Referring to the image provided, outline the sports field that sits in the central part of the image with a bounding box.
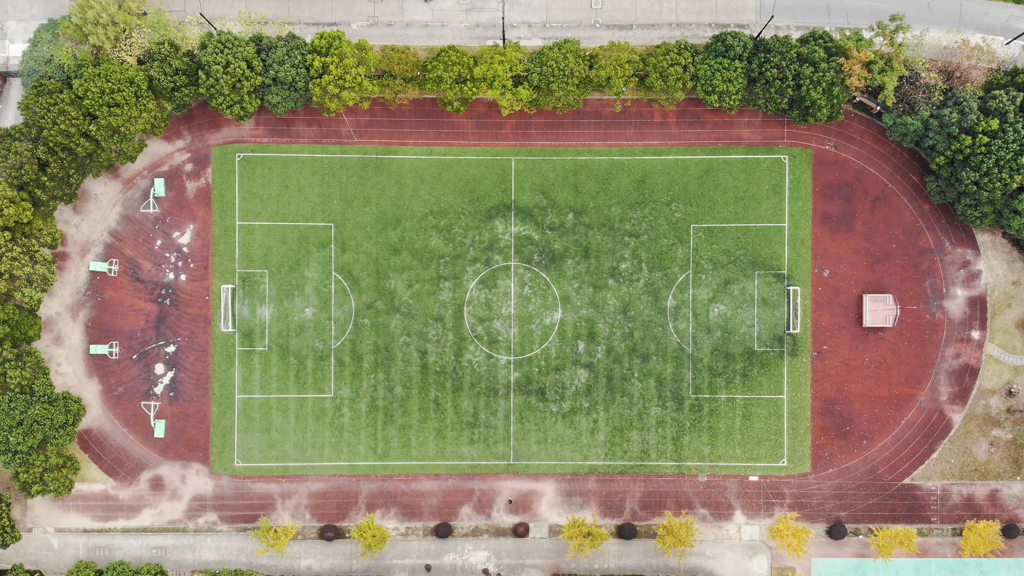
[211,144,812,475]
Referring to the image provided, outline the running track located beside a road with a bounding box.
[27,96,1024,524]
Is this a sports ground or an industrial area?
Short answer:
sports ground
